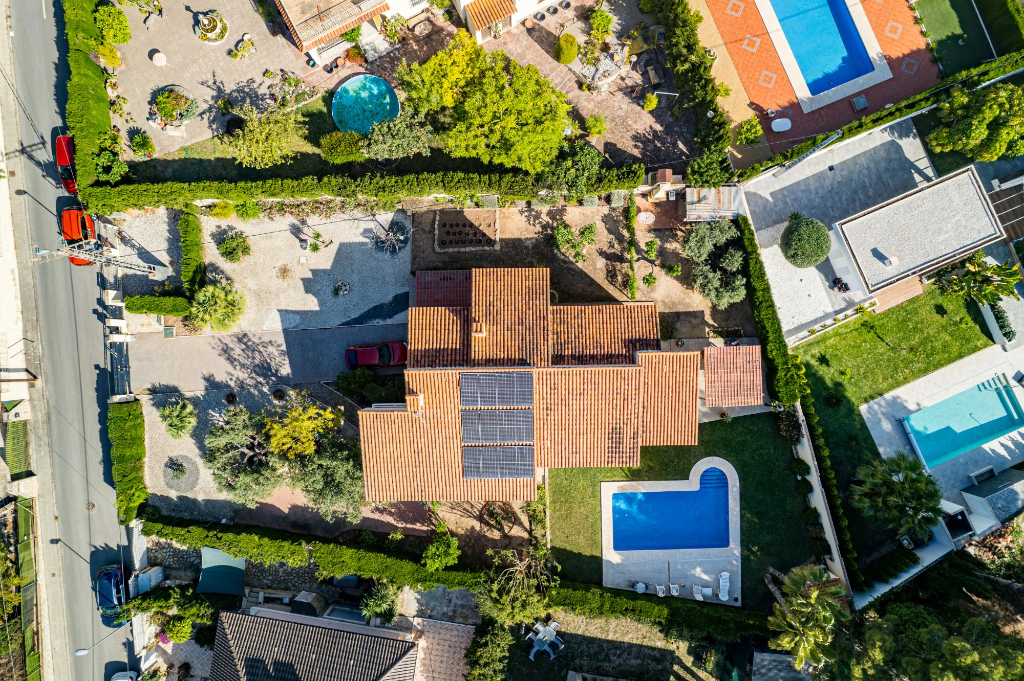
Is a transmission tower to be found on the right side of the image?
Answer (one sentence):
No, on the right side of the image there is no transmission tower.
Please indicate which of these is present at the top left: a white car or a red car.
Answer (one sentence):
Looking at the top left, you will find a red car.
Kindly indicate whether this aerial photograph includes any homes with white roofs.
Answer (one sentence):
Yes, I can see a home with a white roof in this picture.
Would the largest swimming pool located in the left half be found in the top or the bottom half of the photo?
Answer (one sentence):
The top half of the photo is where the largest swimming pool located in the left half is.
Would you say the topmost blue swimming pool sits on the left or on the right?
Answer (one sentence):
You can find the topmost blue swimming pool on the right side of the picture.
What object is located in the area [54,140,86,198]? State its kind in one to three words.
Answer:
car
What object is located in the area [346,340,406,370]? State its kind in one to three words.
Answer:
car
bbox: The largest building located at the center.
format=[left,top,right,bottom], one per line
[357,267,702,502]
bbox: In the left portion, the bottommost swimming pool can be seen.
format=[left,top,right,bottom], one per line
[331,70,399,143]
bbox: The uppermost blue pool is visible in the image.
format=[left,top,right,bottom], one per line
[769,0,874,94]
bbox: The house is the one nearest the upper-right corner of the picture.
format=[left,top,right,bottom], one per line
[815,165,1024,298]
